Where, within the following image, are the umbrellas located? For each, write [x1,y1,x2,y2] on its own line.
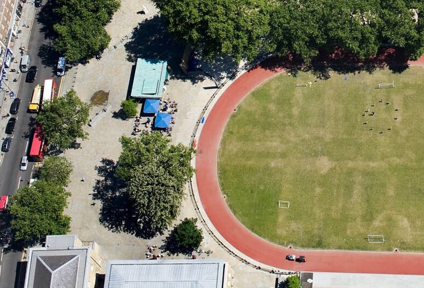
[143,98,160,113]
[155,111,173,128]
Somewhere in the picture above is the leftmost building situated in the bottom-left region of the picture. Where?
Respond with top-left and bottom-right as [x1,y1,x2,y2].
[24,235,100,288]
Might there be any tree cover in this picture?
Yes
